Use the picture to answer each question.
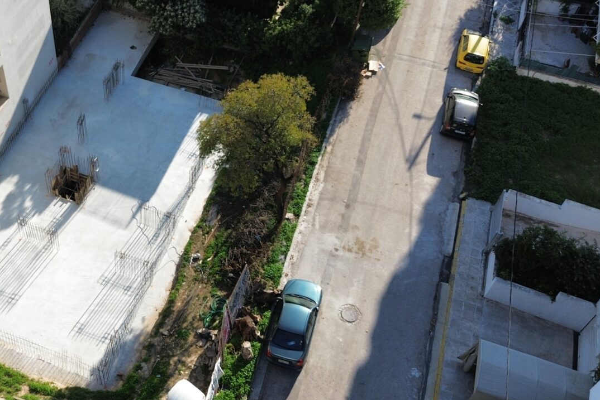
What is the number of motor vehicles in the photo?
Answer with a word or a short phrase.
3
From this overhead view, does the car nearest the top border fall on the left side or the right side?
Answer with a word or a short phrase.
right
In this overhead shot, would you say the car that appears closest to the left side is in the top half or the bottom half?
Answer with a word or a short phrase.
bottom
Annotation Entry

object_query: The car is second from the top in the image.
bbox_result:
[439,80,484,134]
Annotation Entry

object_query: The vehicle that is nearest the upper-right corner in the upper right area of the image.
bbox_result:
[455,29,493,70]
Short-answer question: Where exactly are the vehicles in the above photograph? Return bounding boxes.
[439,80,484,134]
[263,274,324,370]
[455,29,493,70]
